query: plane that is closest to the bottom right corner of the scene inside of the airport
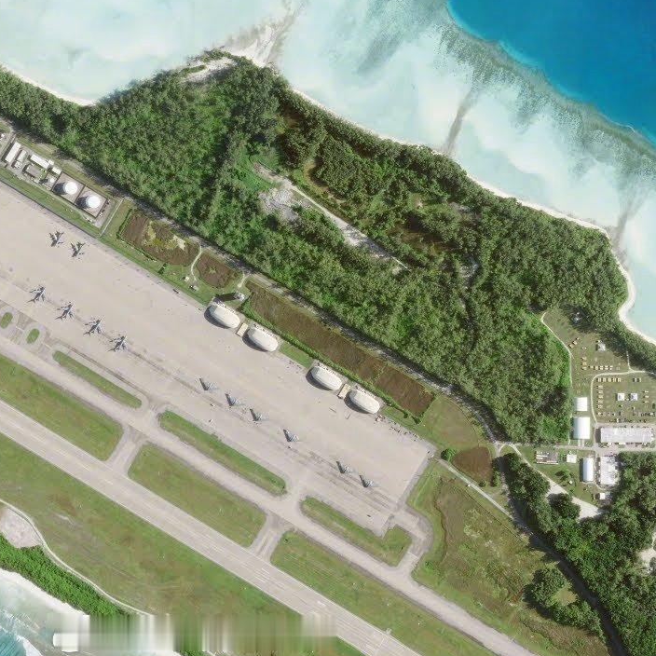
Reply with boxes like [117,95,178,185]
[360,473,381,487]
